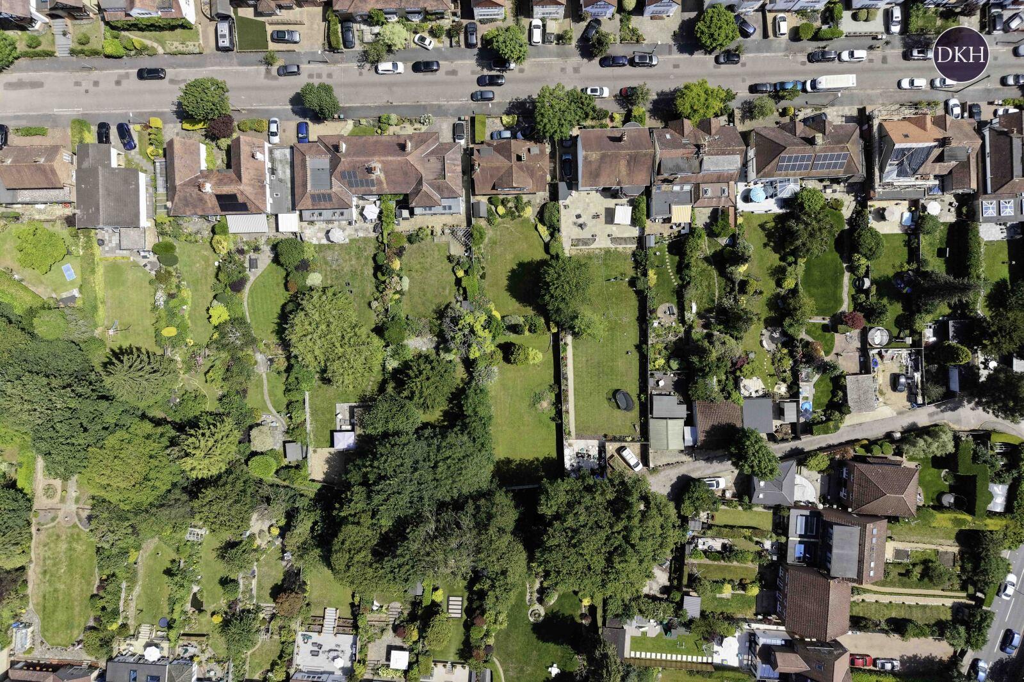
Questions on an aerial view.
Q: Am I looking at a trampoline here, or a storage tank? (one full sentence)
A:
This aerial view contains a trampoline.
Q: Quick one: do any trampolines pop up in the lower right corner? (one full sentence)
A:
Yes, looking in the lower right corner, one can make out a trampoline.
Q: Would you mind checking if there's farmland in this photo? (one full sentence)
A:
No, the scene doesn't show any farmland.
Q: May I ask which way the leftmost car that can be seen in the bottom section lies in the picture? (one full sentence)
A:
The leftmost car that can be seen in the bottom section has been laid out diagonally relative to the frame.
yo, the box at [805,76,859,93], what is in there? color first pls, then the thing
white vehicle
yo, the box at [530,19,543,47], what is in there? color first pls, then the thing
white vehicle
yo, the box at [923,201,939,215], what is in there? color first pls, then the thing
white umbrella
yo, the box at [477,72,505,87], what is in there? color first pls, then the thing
black car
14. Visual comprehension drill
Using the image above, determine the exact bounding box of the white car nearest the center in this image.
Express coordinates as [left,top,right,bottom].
[619,445,642,473]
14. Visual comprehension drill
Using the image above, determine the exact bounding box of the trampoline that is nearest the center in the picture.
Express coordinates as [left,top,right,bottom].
[615,391,632,411]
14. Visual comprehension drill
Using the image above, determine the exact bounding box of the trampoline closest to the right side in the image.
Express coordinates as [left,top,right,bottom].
[940,491,963,508]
